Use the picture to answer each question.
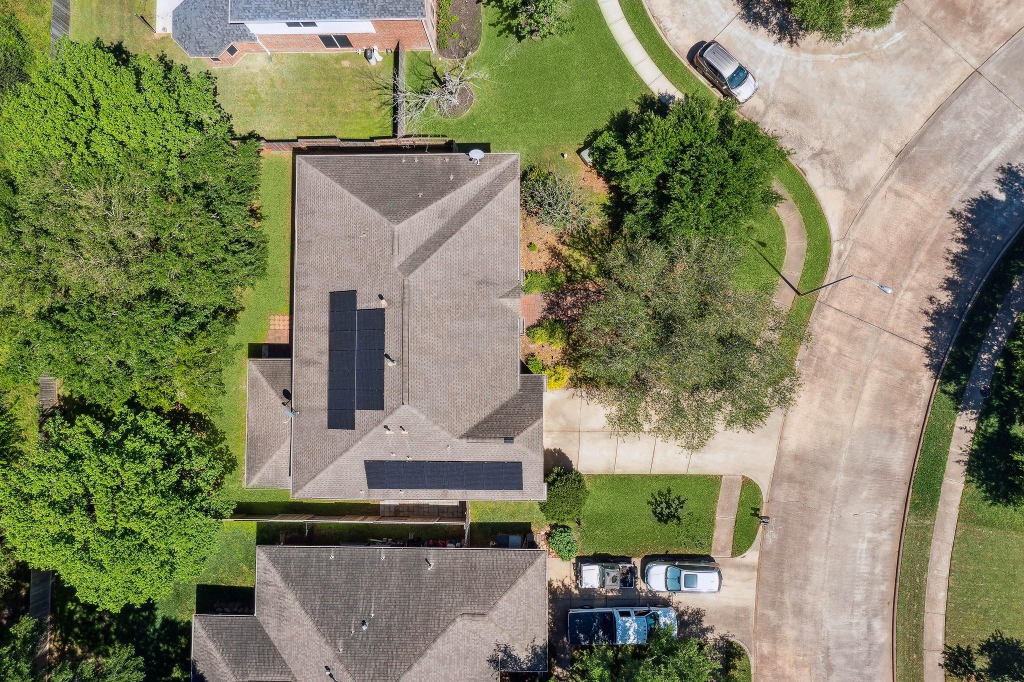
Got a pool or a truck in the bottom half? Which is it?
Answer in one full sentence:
Looking in the bottom half, you will find a truck.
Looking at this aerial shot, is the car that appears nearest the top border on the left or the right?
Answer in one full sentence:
The car that appears nearest the top border appears in the right half of the scene.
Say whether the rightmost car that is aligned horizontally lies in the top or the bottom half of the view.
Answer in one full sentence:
You can find the rightmost car that is aligned horizontally in the bottom half.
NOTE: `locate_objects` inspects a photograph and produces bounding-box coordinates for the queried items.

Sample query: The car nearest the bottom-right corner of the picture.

[644,559,725,599]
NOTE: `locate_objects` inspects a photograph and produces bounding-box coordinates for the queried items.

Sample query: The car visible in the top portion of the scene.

[692,37,757,103]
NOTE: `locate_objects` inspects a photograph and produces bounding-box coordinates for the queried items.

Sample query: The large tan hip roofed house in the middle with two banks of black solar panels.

[243,152,548,503]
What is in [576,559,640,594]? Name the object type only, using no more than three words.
truck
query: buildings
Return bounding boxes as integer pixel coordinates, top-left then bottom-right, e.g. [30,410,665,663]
[156,0,436,67]
[189,545,550,682]
[243,152,548,503]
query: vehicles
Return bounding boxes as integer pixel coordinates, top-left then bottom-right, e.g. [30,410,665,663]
[576,559,640,594]
[692,37,757,103]
[567,604,680,653]
[644,559,725,599]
